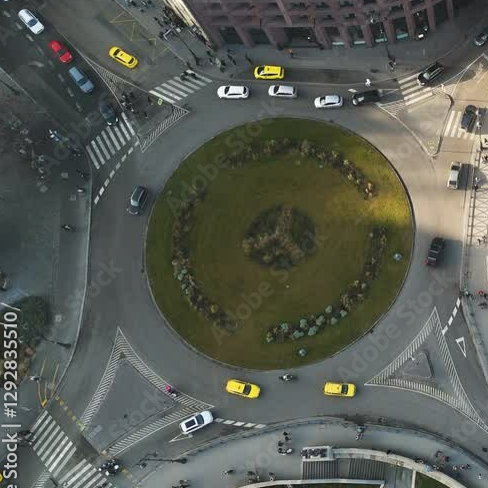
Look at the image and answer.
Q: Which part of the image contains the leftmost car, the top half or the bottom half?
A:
top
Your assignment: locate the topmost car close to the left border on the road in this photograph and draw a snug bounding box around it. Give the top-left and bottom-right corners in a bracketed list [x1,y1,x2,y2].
[14,5,42,31]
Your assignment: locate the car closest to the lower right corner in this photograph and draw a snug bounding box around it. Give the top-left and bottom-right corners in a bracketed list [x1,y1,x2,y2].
[322,382,355,397]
